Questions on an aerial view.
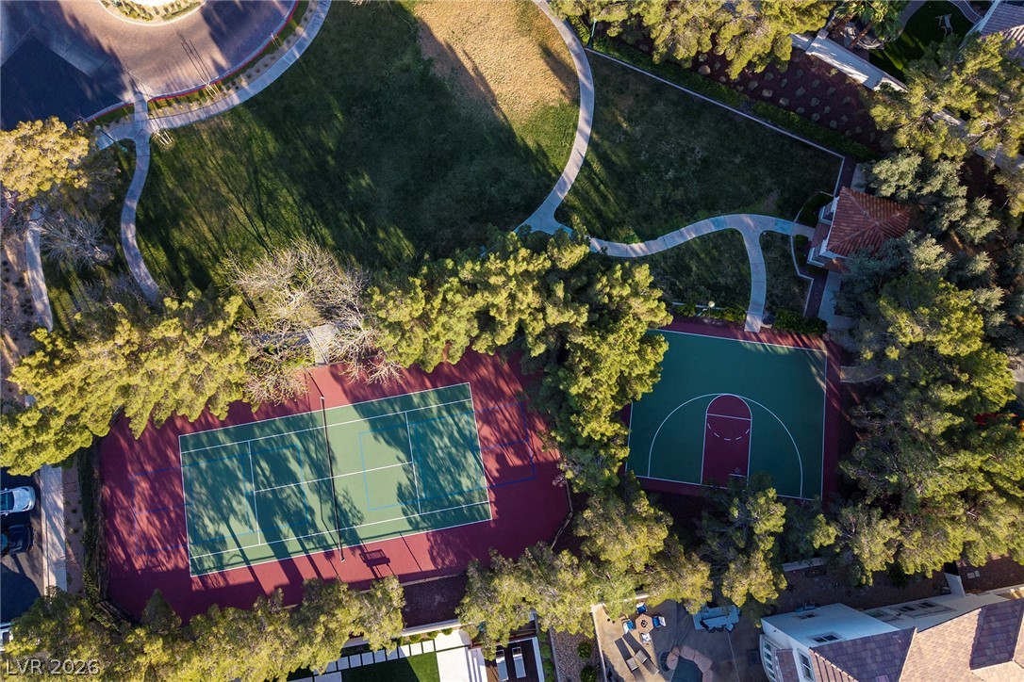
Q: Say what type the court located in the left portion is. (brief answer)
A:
tennis court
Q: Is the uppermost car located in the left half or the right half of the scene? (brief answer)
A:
left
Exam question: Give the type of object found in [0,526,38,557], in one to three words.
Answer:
car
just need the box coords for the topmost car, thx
[0,486,38,515]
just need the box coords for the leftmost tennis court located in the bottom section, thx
[99,332,571,632]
